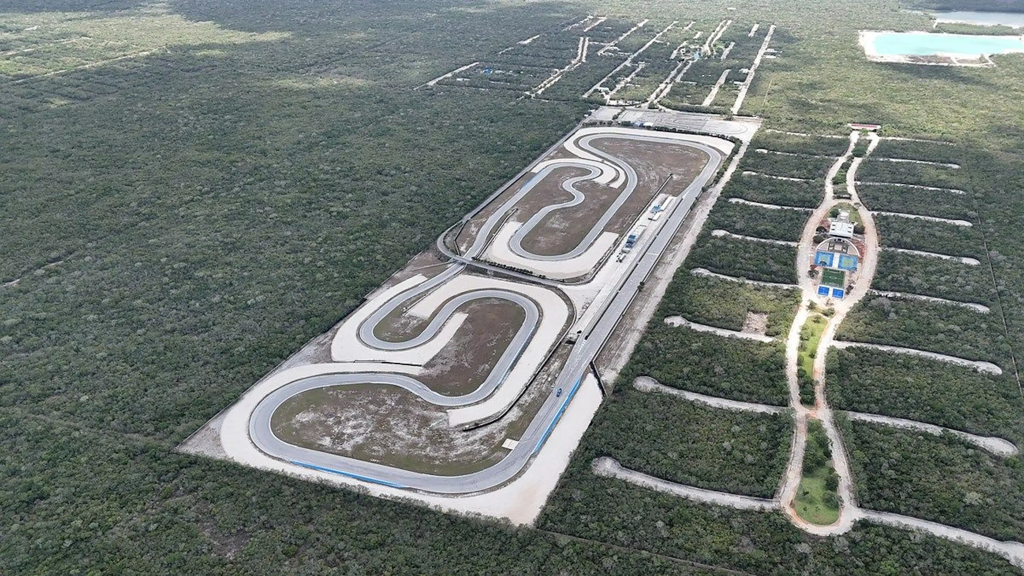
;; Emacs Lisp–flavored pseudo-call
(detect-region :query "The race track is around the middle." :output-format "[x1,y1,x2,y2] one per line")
[252,134,721,492]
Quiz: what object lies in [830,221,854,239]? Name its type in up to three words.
building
